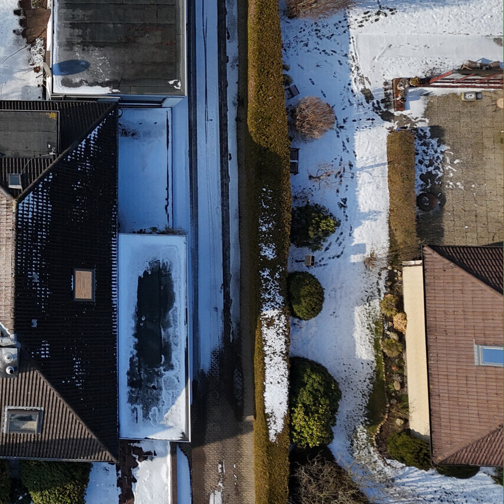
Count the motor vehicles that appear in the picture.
0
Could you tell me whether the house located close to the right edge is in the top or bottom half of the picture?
bottom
